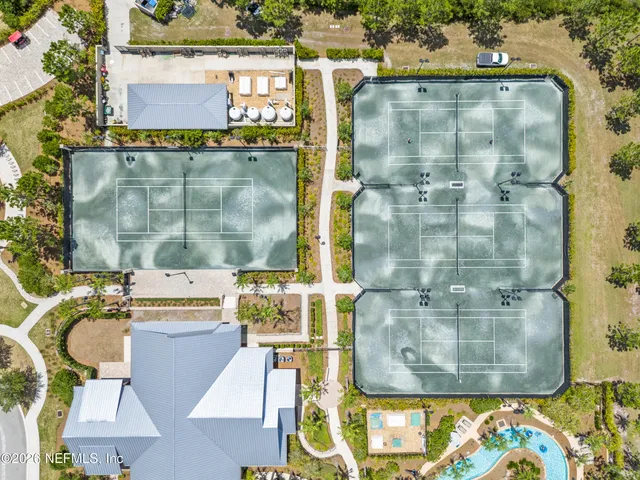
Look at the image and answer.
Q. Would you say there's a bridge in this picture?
No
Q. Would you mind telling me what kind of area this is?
sports ground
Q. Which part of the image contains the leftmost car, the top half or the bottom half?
top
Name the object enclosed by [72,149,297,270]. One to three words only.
tennis court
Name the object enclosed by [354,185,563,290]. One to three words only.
tennis court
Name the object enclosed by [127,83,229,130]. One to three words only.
shed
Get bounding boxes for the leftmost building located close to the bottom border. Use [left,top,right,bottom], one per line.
[62,321,296,480]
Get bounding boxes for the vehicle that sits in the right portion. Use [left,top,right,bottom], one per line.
[476,51,511,65]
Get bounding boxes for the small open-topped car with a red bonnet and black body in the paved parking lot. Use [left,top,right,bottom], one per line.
[6,28,28,51]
